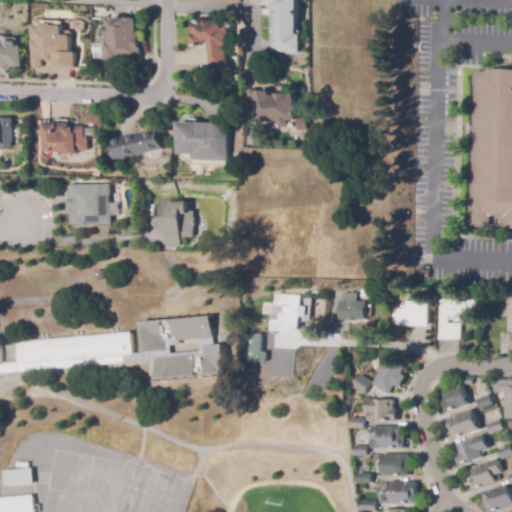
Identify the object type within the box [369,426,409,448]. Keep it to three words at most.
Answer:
house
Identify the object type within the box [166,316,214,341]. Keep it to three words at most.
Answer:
building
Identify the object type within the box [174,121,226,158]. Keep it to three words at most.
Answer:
house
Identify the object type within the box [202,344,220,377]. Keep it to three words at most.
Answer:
building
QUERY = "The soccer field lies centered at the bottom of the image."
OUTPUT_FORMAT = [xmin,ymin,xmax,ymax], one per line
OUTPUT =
[238,486,330,512]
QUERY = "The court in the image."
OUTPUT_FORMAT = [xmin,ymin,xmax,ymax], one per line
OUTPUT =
[0,432,195,512]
